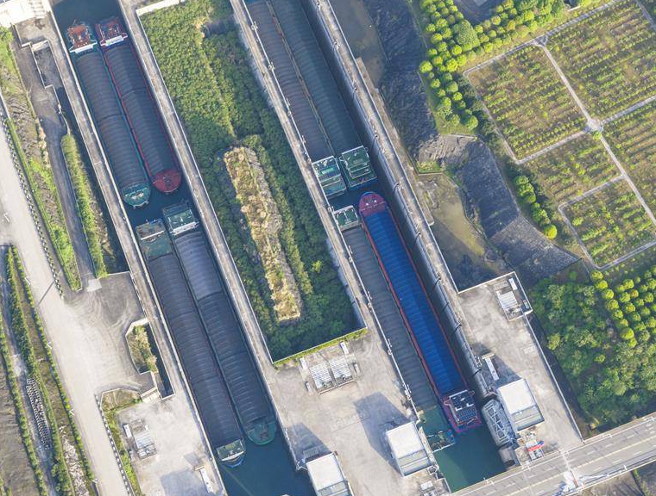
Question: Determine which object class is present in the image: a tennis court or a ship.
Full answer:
This aerial view contains a ship.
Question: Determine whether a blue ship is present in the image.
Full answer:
Yes, a blue ship appears in the view.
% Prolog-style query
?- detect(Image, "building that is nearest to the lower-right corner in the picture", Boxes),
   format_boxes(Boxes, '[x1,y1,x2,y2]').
[494,377,544,434]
